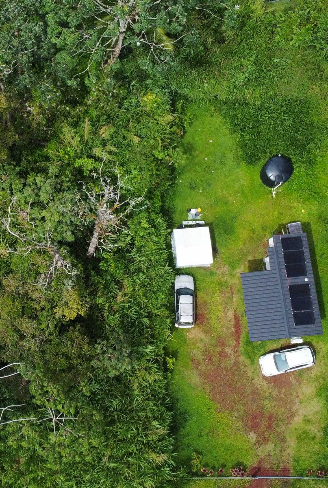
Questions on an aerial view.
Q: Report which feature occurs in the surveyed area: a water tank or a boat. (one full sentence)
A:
The image shows a water tank.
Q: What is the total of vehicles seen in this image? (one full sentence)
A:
There are 2 vehicles in the image.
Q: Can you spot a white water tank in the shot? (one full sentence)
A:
No, I can see no white water tank in this picture.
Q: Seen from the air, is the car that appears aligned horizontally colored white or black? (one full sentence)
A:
The car that appears aligned horizontally looks white in the image.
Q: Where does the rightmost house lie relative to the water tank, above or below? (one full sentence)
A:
The rightmost house is below the water tank.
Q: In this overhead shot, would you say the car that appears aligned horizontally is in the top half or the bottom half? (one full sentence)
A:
The bottom half of the photo is where the car that appears aligned horizontally is.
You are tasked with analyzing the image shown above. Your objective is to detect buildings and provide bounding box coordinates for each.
[241,234,324,341]
[170,226,213,269]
